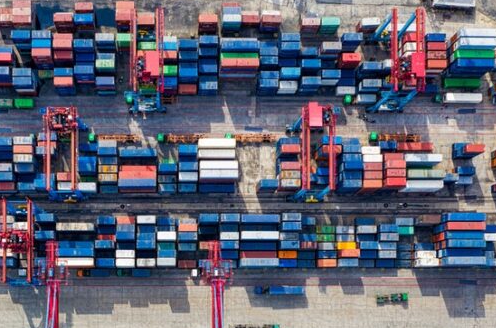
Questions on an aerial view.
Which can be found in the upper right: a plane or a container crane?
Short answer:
container crane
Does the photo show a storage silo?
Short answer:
No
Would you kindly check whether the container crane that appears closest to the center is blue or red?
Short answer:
red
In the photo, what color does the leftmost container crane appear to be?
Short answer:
red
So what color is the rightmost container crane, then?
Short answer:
red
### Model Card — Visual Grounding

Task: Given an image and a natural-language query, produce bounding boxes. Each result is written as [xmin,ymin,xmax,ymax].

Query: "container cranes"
[365,5,428,115]
[201,242,235,328]
[40,104,87,206]
[125,7,168,115]
[284,98,338,206]
[36,242,71,328]
[0,194,51,291]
